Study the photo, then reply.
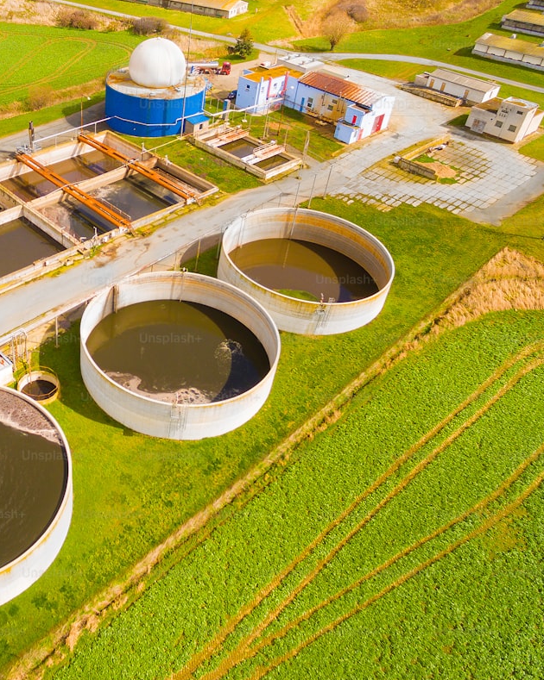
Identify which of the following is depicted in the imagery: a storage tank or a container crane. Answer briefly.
storage tank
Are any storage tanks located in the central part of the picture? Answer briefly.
Yes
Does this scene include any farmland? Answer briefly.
Yes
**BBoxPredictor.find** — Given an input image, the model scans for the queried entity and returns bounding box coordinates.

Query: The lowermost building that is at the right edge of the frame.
[465,95,544,142]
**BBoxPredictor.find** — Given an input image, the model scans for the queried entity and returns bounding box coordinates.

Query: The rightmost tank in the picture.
[215,203,397,337]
